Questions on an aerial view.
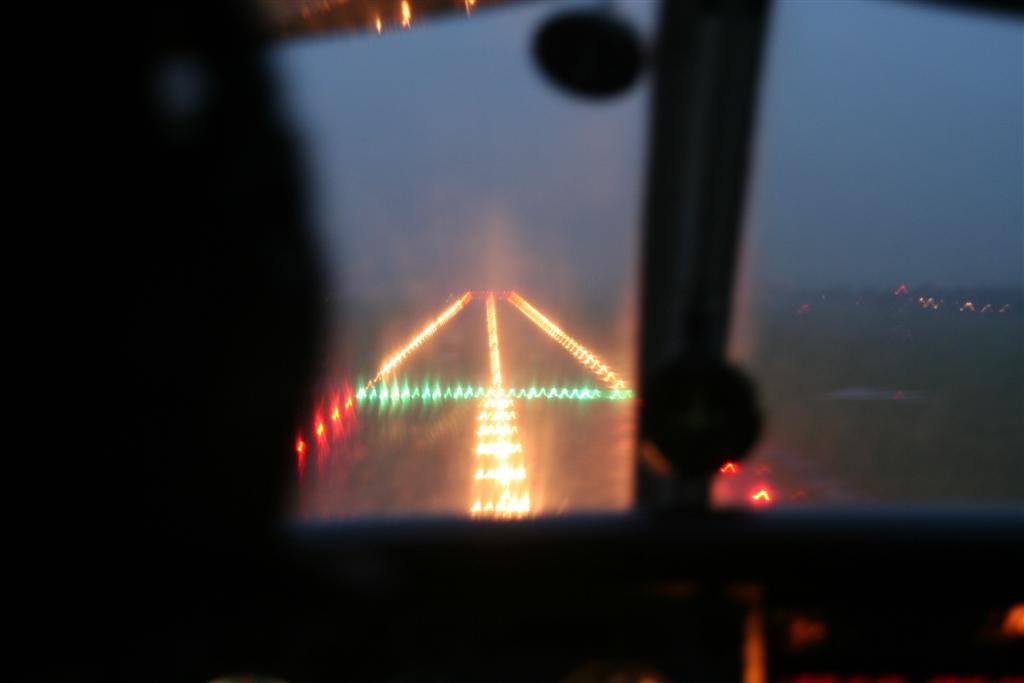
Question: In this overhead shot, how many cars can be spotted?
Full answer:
The picture shows no cars.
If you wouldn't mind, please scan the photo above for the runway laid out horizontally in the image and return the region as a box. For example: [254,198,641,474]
[357,294,634,395]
